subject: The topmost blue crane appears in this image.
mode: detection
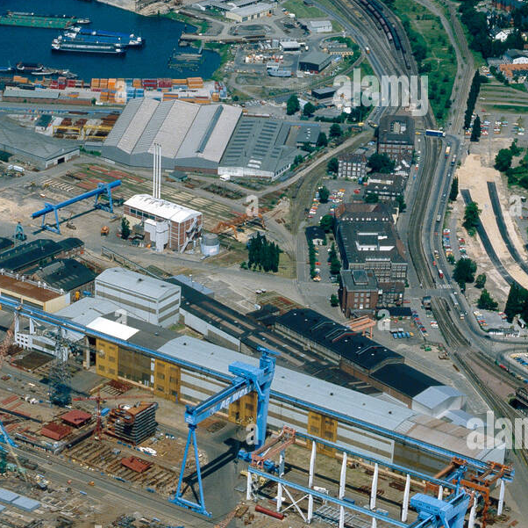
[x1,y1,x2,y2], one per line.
[30,180,123,230]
